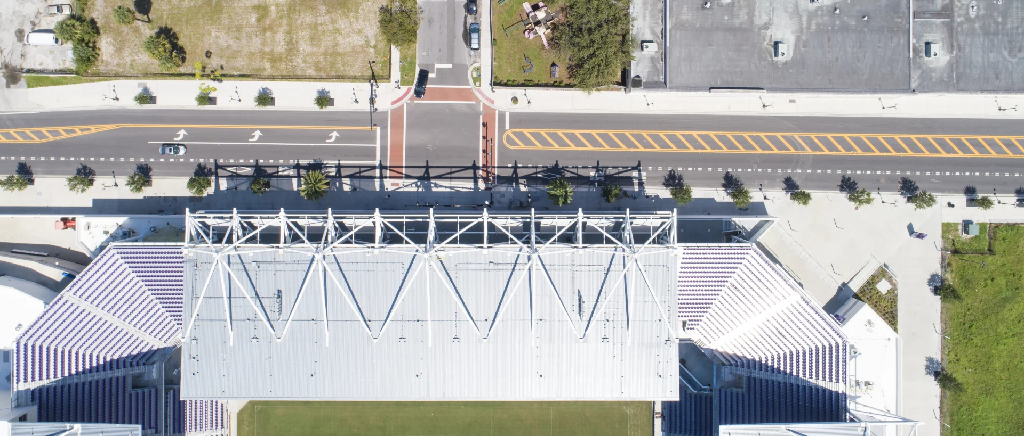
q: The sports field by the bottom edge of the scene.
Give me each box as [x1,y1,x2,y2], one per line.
[237,400,652,436]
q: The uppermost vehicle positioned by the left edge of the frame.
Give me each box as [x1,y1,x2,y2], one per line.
[43,2,71,14]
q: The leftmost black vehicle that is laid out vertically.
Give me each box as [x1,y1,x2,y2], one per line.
[413,69,428,98]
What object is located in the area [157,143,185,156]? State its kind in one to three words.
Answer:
vehicle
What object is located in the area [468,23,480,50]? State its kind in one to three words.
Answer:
vehicle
